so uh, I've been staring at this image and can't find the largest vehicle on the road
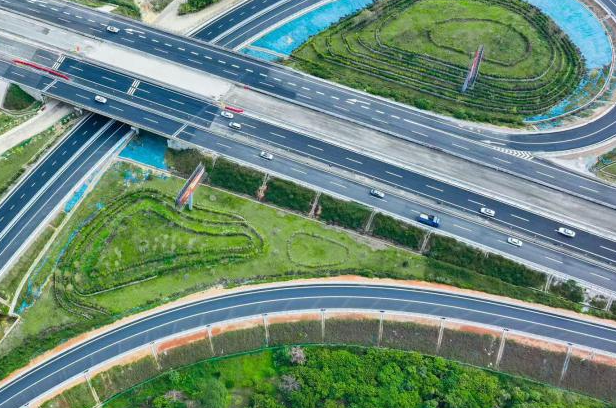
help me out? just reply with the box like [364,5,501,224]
[418,212,441,227]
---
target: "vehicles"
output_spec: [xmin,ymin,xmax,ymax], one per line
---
[228,121,242,129]
[418,212,441,227]
[220,111,234,119]
[93,95,107,103]
[371,189,384,198]
[106,26,118,33]
[259,151,273,159]
[558,227,574,237]
[479,207,495,217]
[506,237,522,246]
